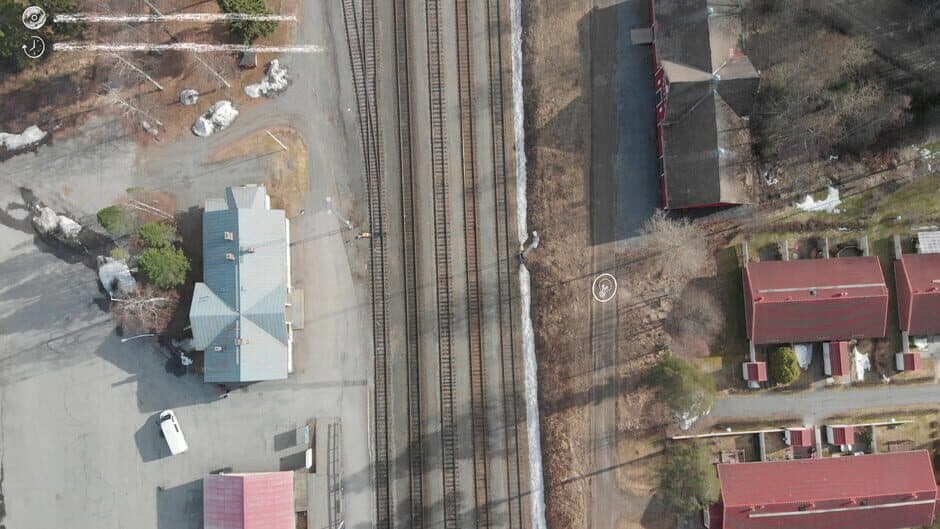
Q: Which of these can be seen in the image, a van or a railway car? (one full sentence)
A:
There is a van in the scene.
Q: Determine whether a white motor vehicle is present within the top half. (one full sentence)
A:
No, no white motor vehicle is visible within the top half.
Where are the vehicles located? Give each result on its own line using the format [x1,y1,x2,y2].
[158,405,187,453]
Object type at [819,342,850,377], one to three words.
shed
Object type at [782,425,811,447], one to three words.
shed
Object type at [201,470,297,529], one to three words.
building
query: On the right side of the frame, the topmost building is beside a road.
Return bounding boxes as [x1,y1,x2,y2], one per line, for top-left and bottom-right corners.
[632,0,758,212]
